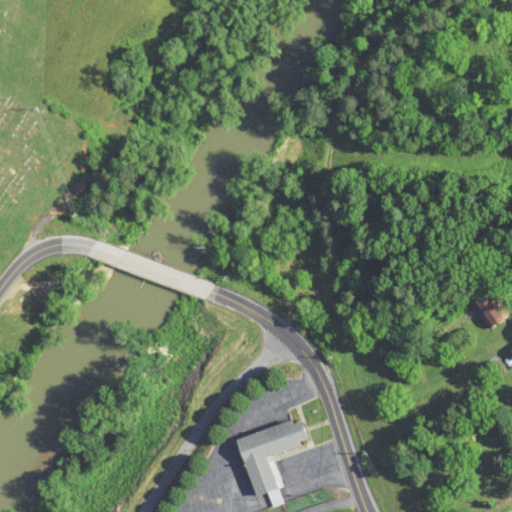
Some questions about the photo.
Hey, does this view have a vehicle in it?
No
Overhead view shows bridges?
Yes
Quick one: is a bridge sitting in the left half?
Yes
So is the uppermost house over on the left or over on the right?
right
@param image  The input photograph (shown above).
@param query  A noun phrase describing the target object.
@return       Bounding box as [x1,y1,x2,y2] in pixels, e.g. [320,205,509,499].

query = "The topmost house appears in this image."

[478,298,510,330]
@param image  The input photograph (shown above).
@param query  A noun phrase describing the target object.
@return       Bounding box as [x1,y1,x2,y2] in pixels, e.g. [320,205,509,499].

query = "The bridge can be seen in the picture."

[88,241,214,299]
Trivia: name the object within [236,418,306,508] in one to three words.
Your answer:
building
